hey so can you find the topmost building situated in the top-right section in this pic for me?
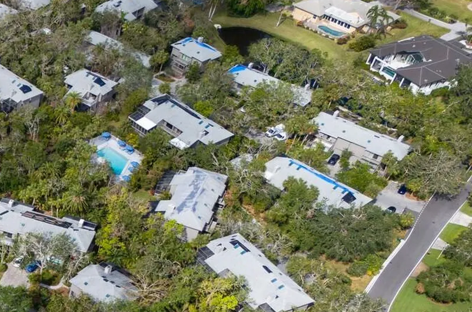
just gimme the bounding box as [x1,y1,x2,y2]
[301,0,390,37]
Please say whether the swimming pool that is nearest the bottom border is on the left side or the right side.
left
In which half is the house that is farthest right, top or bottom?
top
